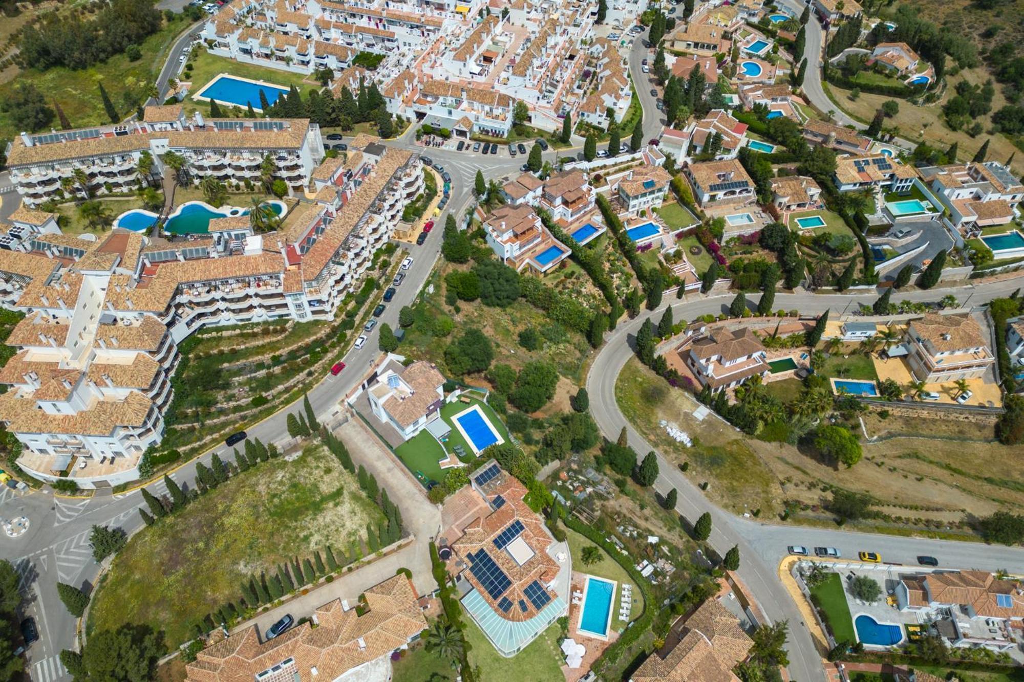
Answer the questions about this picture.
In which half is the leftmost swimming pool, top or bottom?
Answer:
top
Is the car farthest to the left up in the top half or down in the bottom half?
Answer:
bottom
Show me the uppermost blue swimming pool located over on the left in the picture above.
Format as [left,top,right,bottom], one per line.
[193,74,295,112]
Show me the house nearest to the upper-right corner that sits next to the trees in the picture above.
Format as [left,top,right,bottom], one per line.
[866,40,924,80]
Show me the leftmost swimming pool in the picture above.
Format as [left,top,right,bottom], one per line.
[112,209,157,234]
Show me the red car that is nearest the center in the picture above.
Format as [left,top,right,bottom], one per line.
[421,220,436,232]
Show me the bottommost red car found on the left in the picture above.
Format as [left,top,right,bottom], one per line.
[329,362,347,375]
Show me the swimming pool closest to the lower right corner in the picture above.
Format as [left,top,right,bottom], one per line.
[849,610,909,651]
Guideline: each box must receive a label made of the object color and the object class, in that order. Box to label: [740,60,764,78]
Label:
blue swimming pool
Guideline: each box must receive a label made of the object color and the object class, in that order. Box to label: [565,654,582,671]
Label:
white umbrella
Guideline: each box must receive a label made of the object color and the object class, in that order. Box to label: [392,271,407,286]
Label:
gray car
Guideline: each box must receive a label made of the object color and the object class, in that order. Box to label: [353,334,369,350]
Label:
white car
